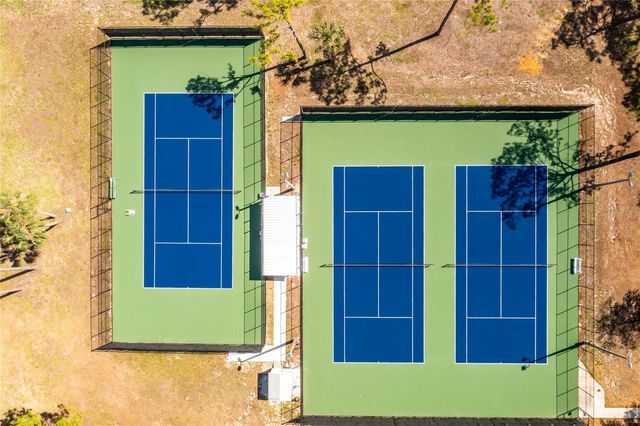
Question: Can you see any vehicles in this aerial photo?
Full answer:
No, I find no vehicle anywhere in the image.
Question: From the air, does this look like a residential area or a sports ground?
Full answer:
It's a sports ground.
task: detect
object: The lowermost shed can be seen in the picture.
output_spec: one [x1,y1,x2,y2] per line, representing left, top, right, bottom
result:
[269,368,292,403]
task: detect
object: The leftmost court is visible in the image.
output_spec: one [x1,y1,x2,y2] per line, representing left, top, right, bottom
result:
[111,37,266,344]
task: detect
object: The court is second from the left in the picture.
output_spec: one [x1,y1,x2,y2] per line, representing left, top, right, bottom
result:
[302,112,440,417]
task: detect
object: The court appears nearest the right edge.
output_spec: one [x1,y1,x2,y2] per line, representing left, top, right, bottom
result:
[440,112,579,417]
